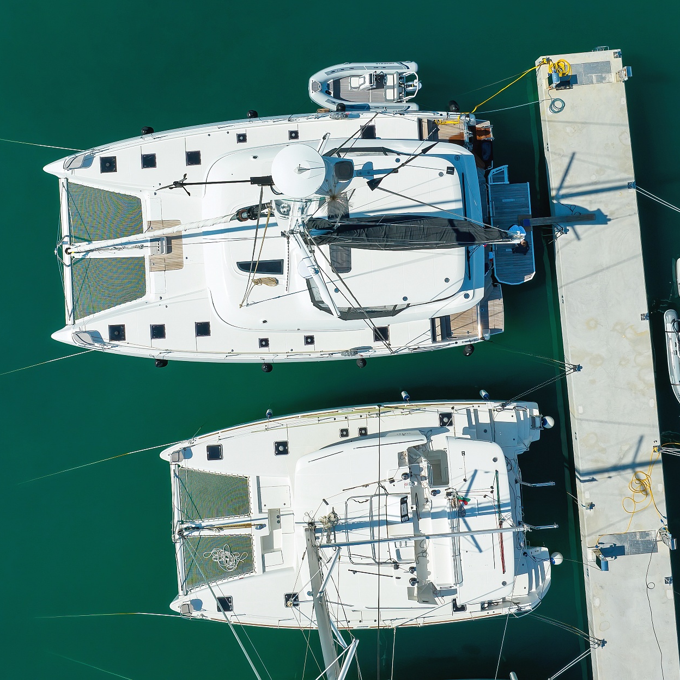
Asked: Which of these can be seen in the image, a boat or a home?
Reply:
boat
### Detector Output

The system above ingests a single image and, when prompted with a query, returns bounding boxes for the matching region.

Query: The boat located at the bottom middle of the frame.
[160,389,558,680]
